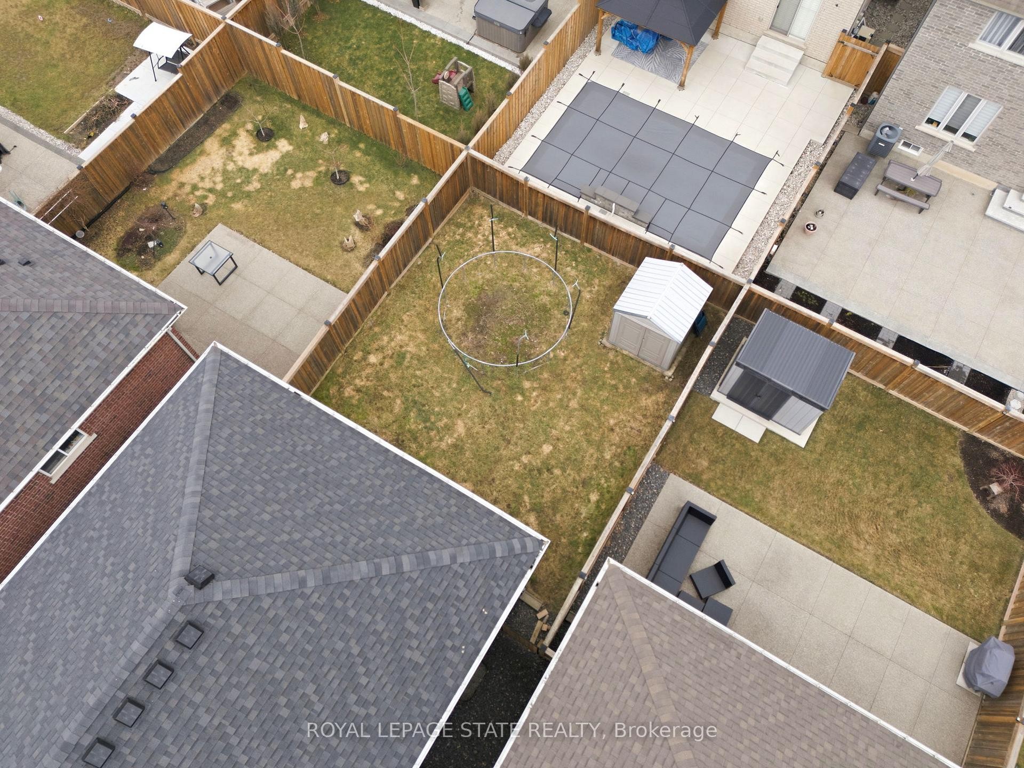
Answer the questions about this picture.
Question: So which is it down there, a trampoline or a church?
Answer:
trampoline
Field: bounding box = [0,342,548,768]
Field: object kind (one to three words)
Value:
house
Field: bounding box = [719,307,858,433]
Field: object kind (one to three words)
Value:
shed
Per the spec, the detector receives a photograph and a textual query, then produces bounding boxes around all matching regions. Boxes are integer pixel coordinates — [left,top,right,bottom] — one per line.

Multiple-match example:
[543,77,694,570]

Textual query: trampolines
[436,206,581,395]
